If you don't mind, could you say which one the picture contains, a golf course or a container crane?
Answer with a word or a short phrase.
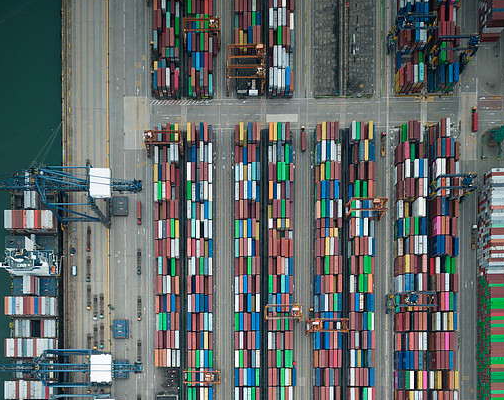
container crane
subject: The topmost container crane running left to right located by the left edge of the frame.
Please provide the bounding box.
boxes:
[0,165,143,230]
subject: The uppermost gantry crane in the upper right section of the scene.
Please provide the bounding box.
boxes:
[387,13,437,55]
